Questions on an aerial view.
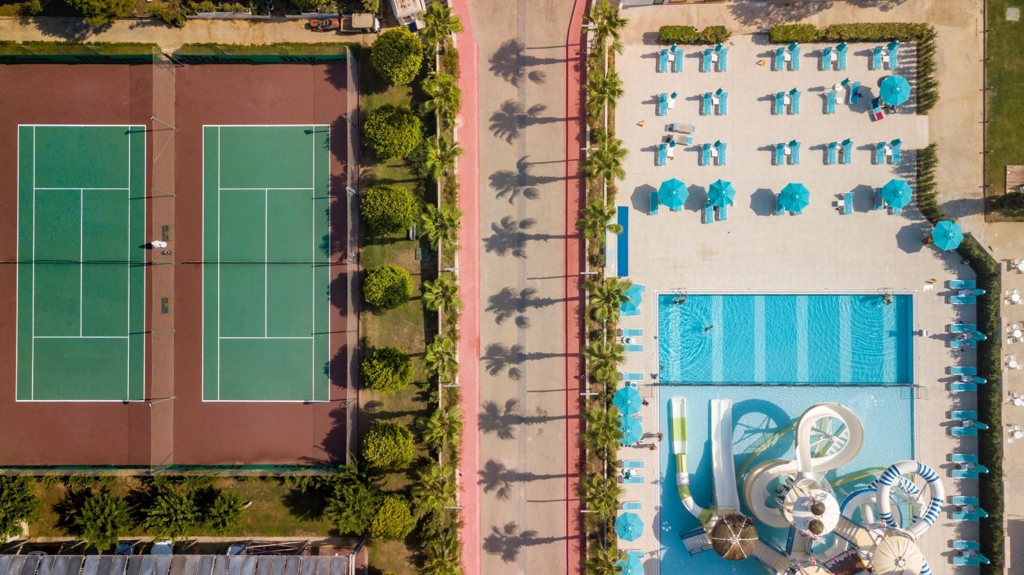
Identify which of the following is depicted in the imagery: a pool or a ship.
pool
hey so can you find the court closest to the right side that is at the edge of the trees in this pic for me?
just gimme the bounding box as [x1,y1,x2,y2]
[172,63,358,465]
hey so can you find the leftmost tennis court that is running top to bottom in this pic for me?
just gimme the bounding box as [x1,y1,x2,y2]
[0,63,175,465]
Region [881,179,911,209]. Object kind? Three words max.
umbrella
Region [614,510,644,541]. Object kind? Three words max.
umbrella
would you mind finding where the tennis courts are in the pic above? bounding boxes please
[172,63,358,465]
[0,63,175,465]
